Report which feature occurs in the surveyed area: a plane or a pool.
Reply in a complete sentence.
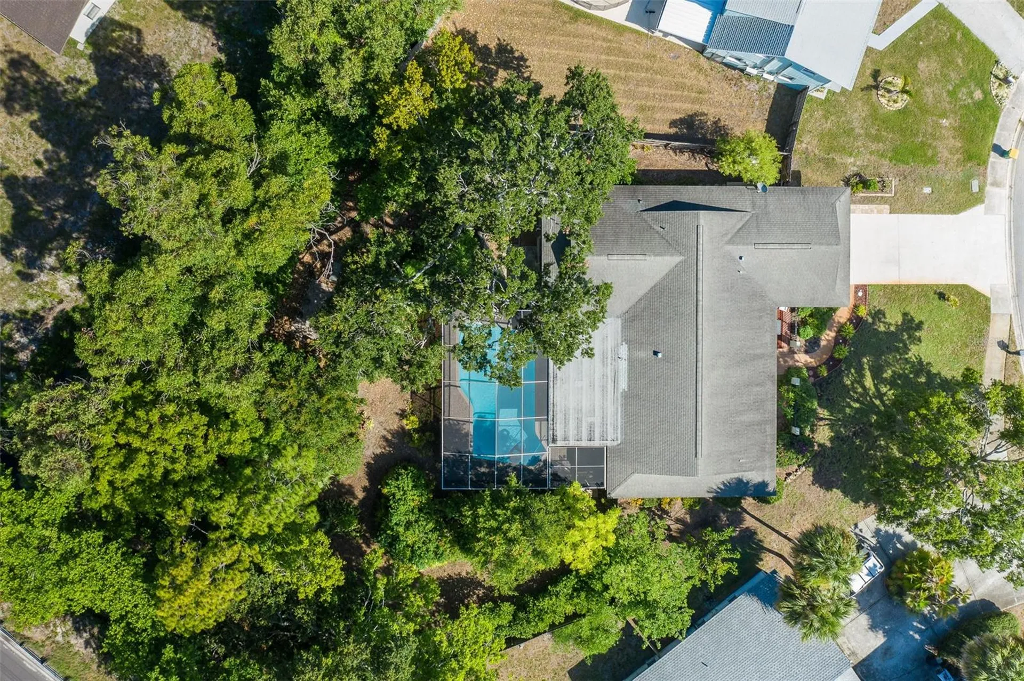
This aerial view contains a pool.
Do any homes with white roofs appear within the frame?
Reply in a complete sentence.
Yes, looking at the shot, I can spot a home with a white roof.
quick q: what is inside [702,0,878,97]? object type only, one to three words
house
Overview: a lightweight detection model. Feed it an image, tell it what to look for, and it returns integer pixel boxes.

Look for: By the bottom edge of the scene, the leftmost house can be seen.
[621,570,859,681]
